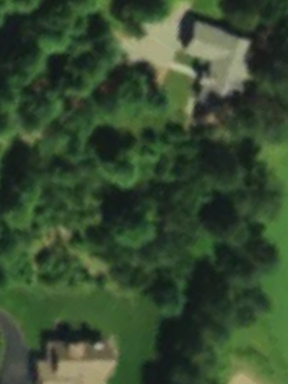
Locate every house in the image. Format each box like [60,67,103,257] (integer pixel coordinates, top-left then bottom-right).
[37,342,116,384]
[182,18,253,101]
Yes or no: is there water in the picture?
No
